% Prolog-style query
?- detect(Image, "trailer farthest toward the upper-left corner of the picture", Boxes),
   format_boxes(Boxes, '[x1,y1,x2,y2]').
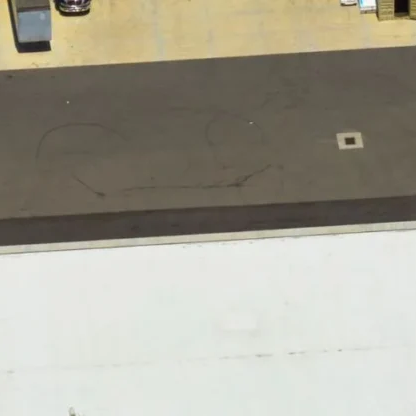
[15,0,52,51]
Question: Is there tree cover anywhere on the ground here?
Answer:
No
